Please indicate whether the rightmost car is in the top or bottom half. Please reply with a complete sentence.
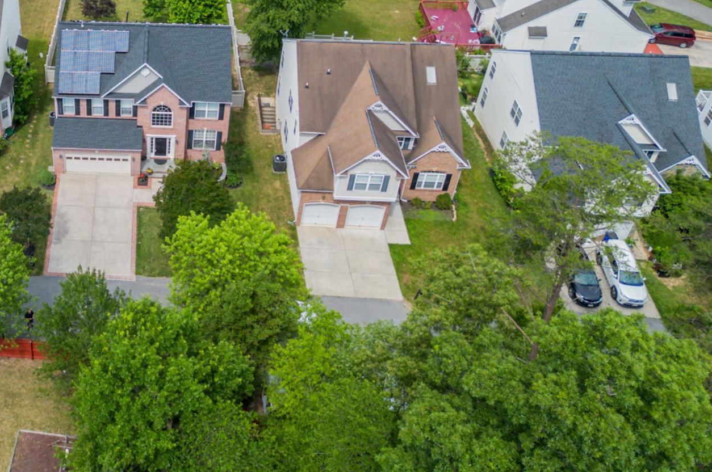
Seen from above, the rightmost car lies in the top half of the view.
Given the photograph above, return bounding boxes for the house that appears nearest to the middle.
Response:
[275,26,474,228]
